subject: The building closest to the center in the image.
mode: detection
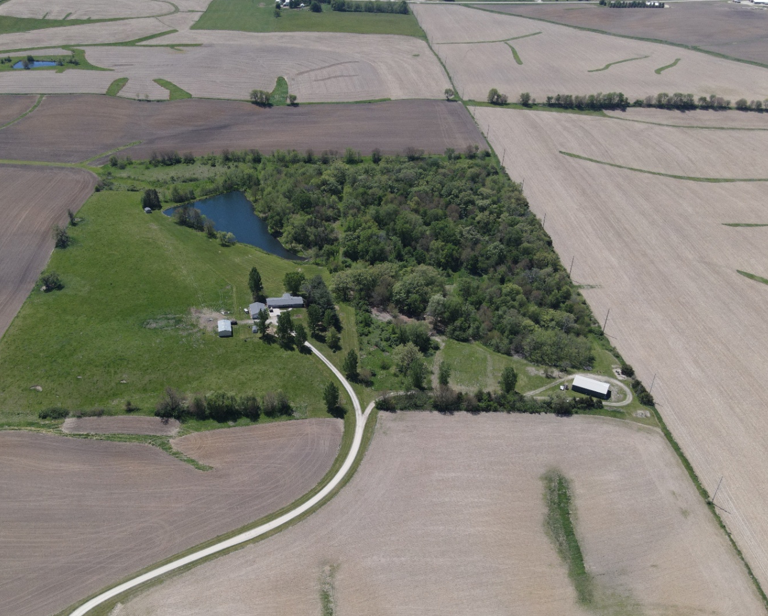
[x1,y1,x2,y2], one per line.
[266,287,305,308]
